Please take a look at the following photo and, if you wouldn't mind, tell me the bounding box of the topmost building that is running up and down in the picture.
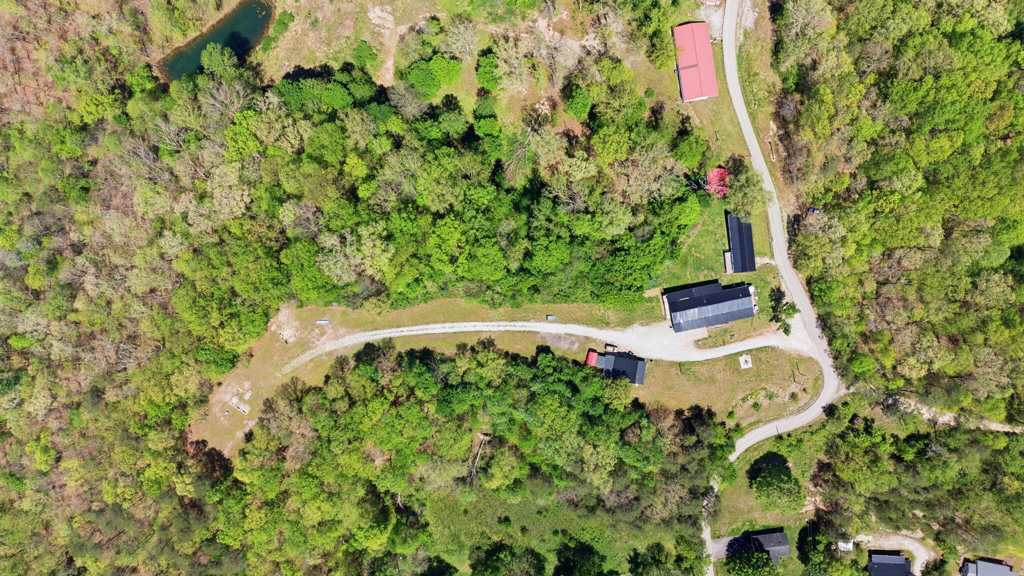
[673,21,717,100]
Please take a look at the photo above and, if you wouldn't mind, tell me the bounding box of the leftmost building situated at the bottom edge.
[749,531,790,564]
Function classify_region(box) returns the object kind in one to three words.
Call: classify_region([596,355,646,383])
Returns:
building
